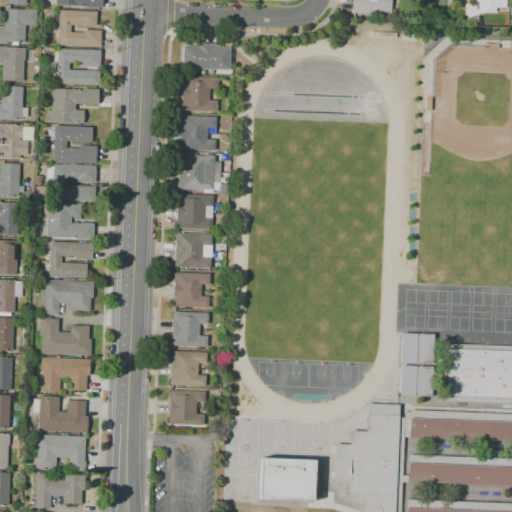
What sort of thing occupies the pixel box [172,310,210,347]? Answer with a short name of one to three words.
house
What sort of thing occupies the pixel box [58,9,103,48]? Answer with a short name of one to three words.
house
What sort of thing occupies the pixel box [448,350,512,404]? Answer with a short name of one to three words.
building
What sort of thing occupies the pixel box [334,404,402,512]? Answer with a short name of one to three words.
building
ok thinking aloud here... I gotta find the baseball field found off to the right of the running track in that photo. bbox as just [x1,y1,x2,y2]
[418,45,512,286]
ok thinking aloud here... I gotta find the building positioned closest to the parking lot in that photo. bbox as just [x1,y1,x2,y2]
[169,389,208,428]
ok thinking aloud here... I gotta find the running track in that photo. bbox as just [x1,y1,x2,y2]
[234,42,406,417]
